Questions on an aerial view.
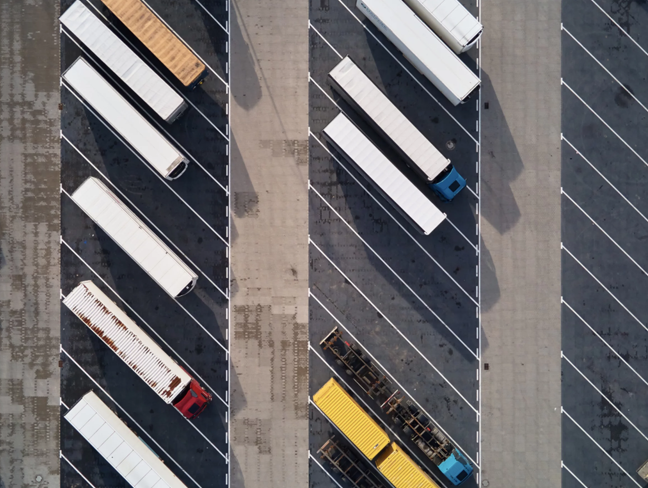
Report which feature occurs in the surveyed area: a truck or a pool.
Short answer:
truck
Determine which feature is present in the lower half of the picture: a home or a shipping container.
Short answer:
shipping container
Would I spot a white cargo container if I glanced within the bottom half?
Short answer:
No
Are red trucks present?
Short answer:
Yes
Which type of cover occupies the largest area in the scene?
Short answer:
paved ground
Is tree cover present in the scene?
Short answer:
No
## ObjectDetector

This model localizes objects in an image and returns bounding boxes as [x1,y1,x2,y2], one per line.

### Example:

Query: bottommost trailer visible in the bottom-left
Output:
[64,391,186,488]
